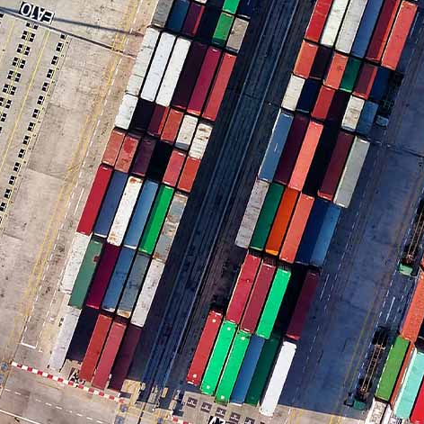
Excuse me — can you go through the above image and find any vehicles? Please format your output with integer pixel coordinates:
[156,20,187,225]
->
[374,47,415,131]
[399,200,424,281]
[351,338,392,423]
